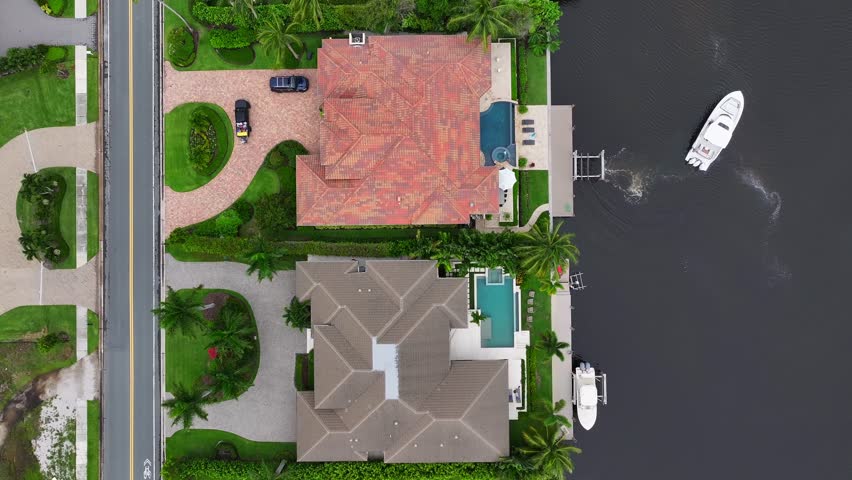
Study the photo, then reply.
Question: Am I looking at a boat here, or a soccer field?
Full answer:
This aerial view contains a boat.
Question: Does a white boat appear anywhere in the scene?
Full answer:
Yes, there's a white boat here.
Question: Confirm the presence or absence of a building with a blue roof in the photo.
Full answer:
No, the photo shows no building with a blue roof.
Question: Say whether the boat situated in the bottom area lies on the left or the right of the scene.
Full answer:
The boat situated in the bottom area is on the right side of the image.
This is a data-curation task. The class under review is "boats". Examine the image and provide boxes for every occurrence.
[682,91,743,175]
[577,362,597,430]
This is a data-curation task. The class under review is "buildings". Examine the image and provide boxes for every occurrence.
[296,33,499,226]
[296,259,508,462]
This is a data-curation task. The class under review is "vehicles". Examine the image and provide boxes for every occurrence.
[270,73,310,92]
[233,100,252,137]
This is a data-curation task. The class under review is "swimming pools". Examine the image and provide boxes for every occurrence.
[474,267,521,348]
[481,101,518,169]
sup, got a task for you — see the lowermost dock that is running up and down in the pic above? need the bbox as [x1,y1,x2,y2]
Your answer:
[551,259,575,443]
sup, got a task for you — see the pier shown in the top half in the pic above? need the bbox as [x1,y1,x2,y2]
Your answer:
[551,104,576,217]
